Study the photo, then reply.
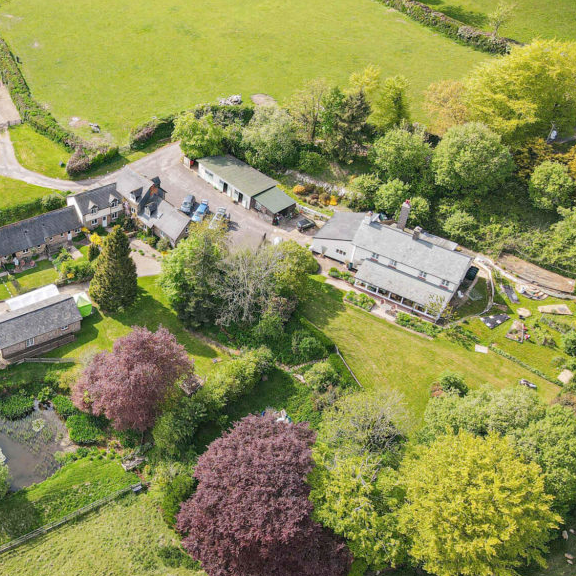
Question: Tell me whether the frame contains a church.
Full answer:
No, there isn't any church down there.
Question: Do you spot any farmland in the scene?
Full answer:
Yes, farmland shows up in the scene.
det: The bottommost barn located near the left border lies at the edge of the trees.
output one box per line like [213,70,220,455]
[0,293,82,358]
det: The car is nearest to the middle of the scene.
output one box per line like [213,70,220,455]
[294,210,320,231]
